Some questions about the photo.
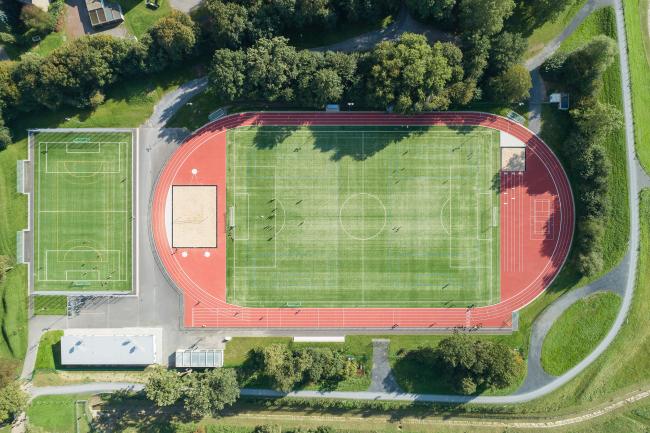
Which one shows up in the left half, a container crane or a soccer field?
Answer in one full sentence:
What appears in the left half is a soccer field.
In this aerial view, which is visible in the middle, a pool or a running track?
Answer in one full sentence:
It is a running track that can be seen in the middle.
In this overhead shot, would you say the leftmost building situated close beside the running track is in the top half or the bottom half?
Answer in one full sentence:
The bottom half of the photo is where the leftmost building situated close beside the running track is.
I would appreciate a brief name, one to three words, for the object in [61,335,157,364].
building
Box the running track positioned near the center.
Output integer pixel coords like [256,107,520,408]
[150,111,576,328]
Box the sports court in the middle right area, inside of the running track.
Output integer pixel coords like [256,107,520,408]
[529,194,554,241]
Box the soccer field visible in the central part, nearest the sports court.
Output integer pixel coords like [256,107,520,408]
[226,126,500,307]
